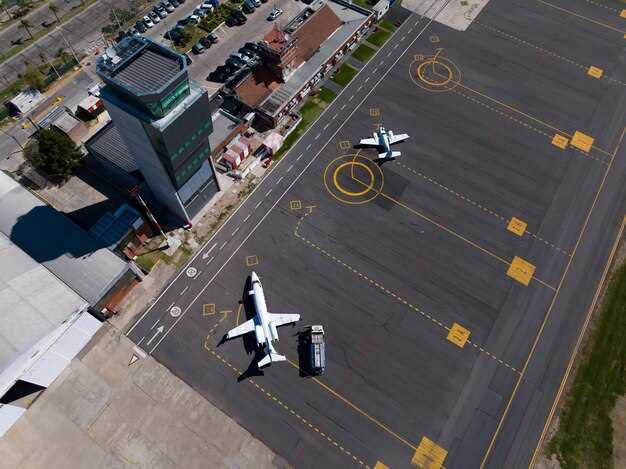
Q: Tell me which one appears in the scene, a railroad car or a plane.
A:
plane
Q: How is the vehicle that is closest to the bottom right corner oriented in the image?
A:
vertically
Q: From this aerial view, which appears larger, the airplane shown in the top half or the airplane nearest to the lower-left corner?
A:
the airplane nearest to the lower-left corner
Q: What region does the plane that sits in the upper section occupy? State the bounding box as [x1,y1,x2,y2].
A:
[362,128,411,163]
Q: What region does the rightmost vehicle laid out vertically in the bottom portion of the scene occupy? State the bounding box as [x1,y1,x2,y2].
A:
[307,326,327,378]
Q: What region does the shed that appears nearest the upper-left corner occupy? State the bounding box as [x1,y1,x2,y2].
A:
[10,87,47,119]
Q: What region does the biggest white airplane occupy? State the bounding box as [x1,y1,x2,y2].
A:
[226,272,301,369]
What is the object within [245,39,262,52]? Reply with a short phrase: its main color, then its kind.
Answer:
black vehicle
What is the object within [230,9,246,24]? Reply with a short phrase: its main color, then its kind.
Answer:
black car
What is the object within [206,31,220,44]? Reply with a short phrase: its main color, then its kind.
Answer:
gray vehicle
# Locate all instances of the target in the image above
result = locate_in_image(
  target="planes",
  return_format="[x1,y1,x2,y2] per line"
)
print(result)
[226,272,301,369]
[362,128,411,163]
